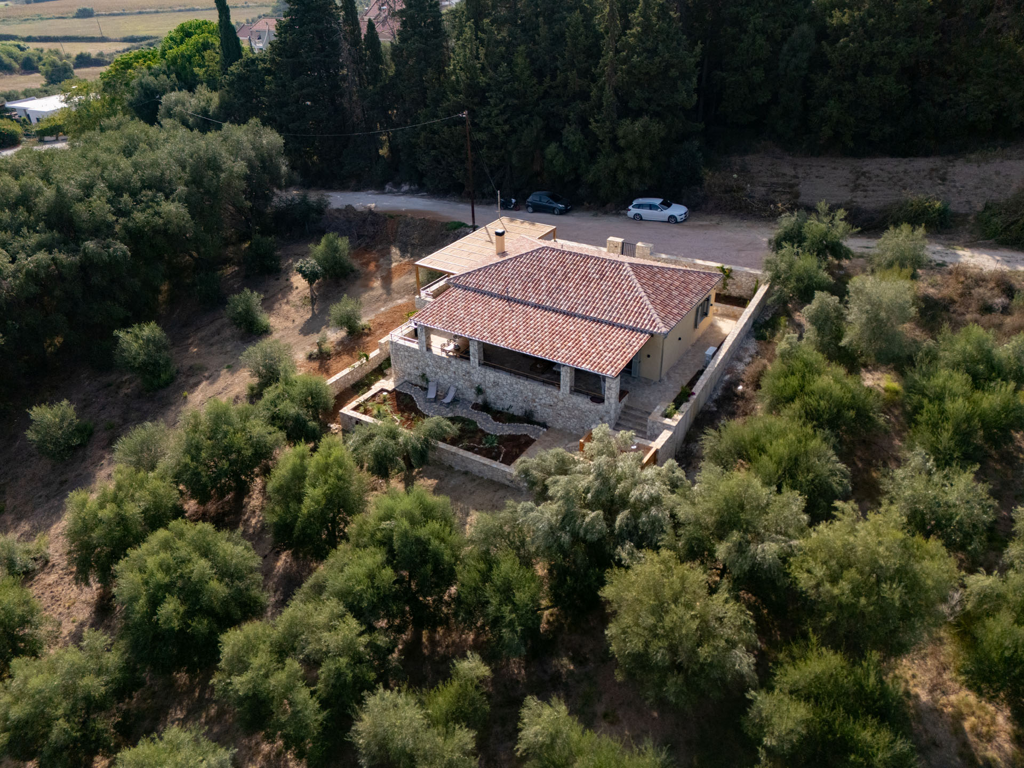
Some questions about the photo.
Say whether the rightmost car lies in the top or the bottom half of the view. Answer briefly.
top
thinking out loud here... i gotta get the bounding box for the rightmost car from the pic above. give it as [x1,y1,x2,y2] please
[627,198,687,223]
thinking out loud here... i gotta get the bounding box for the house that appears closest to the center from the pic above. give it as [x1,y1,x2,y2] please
[409,231,723,409]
